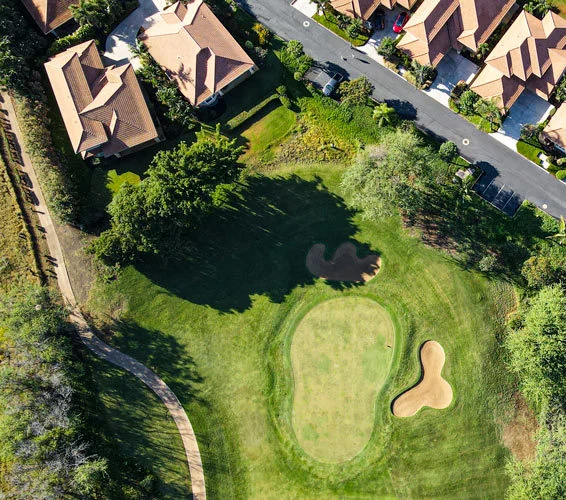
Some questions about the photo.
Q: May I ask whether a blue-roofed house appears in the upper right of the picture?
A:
No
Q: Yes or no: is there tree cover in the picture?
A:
Yes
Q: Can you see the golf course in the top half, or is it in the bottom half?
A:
bottom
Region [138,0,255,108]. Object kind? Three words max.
house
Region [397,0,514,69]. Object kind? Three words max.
house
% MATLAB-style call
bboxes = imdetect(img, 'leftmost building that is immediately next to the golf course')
[45,40,159,157]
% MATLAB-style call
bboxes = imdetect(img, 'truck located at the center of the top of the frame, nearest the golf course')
[322,70,344,97]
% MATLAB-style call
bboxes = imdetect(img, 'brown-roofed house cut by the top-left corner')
[26,0,84,37]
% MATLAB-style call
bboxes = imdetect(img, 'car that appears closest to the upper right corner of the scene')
[392,11,410,34]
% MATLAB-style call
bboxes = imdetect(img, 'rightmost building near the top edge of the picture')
[470,10,566,113]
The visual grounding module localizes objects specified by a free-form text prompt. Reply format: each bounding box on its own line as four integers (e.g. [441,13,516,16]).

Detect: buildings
[26,0,84,37]
[470,10,566,113]
[540,104,566,158]
[45,40,159,157]
[138,0,255,108]
[318,0,417,20]
[397,0,514,69]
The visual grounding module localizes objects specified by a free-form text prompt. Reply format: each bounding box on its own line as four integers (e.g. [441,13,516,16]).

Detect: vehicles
[322,70,344,97]
[373,8,386,33]
[392,11,410,34]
